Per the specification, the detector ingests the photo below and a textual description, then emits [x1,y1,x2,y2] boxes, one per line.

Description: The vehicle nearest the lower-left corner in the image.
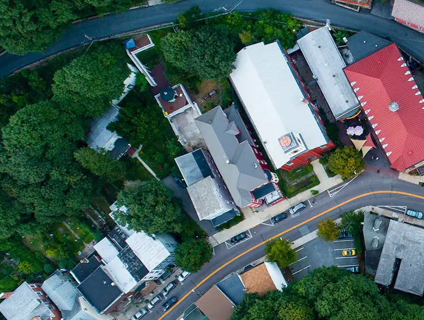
[131,308,148,320]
